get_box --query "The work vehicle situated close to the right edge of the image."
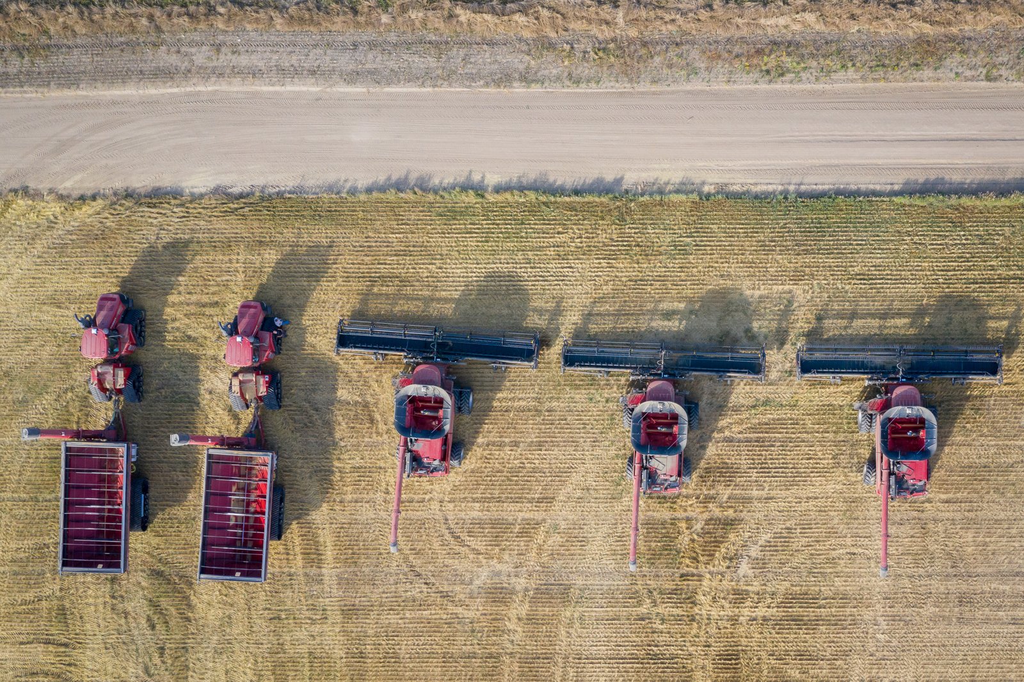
[795,342,1004,575]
